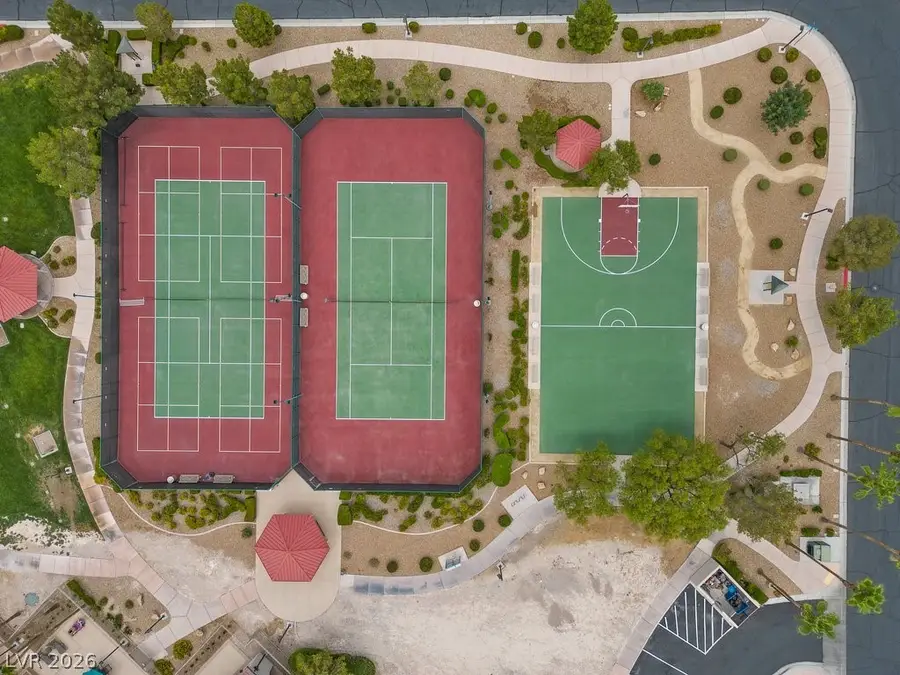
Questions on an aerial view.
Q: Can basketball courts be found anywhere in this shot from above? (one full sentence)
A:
Yes, a basketball court is visible in the scene.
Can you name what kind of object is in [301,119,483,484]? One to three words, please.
tennis court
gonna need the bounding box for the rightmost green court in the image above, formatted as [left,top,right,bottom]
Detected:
[529,187,709,461]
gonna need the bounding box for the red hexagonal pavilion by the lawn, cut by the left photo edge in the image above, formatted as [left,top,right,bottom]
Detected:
[0,245,51,323]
